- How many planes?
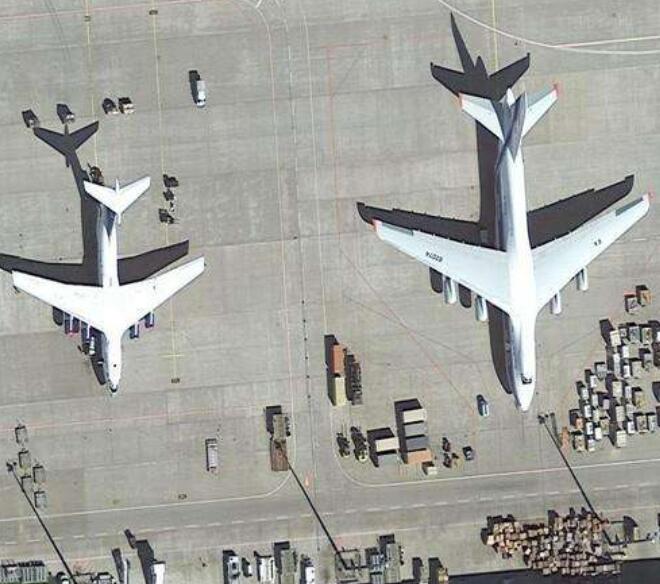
2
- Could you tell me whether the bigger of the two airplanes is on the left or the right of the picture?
right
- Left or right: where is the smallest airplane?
left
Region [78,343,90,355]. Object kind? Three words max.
vehicle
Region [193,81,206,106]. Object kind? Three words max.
vehicle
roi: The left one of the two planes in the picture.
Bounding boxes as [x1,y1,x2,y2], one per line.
[10,174,204,393]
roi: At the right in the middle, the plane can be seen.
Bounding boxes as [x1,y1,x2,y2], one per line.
[374,83,650,411]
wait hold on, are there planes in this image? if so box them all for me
[374,83,650,411]
[10,174,204,393]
